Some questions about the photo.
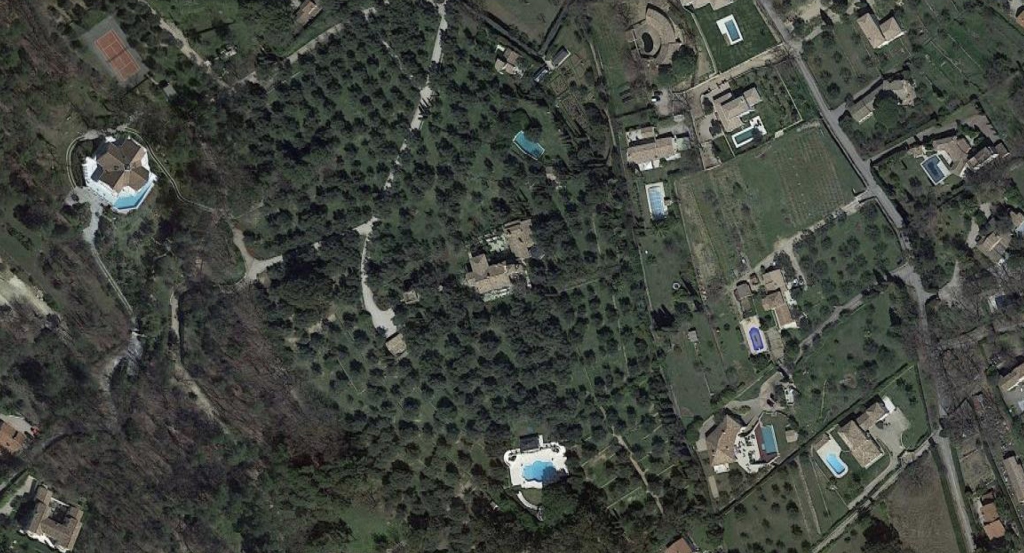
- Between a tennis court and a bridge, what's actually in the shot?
tennis court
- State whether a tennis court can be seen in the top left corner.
Yes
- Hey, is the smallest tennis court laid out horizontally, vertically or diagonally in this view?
diagonally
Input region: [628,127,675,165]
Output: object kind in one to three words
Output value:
house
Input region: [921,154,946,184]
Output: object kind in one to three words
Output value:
swimming pool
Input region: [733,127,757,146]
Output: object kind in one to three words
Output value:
swimming pool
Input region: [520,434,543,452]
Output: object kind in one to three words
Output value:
building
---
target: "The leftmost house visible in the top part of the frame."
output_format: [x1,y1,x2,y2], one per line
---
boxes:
[97,139,149,194]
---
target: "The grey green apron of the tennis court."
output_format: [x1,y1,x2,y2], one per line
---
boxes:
[80,12,150,88]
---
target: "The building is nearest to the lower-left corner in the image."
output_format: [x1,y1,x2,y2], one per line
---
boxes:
[29,486,83,553]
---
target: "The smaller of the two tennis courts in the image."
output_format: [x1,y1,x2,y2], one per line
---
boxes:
[96,31,140,80]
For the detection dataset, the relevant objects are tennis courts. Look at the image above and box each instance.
[96,31,140,80]
[80,12,150,88]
